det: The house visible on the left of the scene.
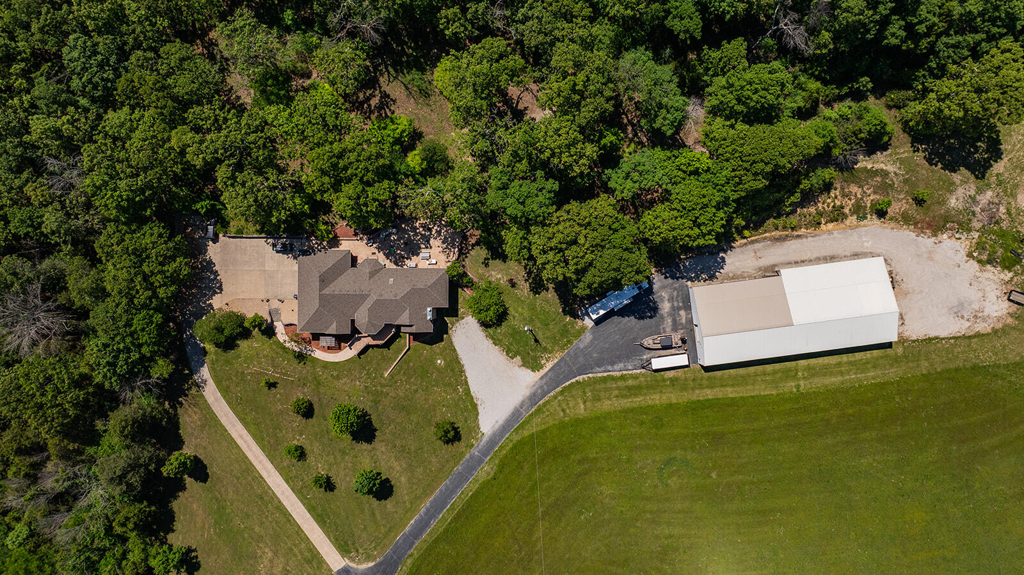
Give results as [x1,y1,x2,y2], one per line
[297,249,450,335]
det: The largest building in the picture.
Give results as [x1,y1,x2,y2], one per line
[688,256,901,368]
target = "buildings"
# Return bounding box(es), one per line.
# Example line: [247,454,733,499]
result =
[297,249,450,335]
[688,256,901,368]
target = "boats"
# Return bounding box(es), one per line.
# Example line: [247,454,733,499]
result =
[640,333,687,349]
